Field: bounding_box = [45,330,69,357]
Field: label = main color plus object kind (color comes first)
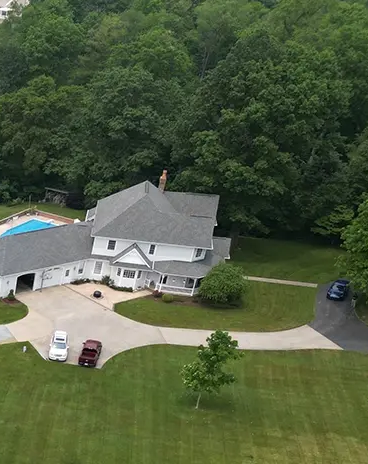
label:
white car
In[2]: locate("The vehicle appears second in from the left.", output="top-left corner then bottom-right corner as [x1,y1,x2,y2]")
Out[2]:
[73,334,98,362]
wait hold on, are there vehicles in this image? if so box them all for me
[323,280,346,300]
[73,334,98,362]
[45,330,69,357]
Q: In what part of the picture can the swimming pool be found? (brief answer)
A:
left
